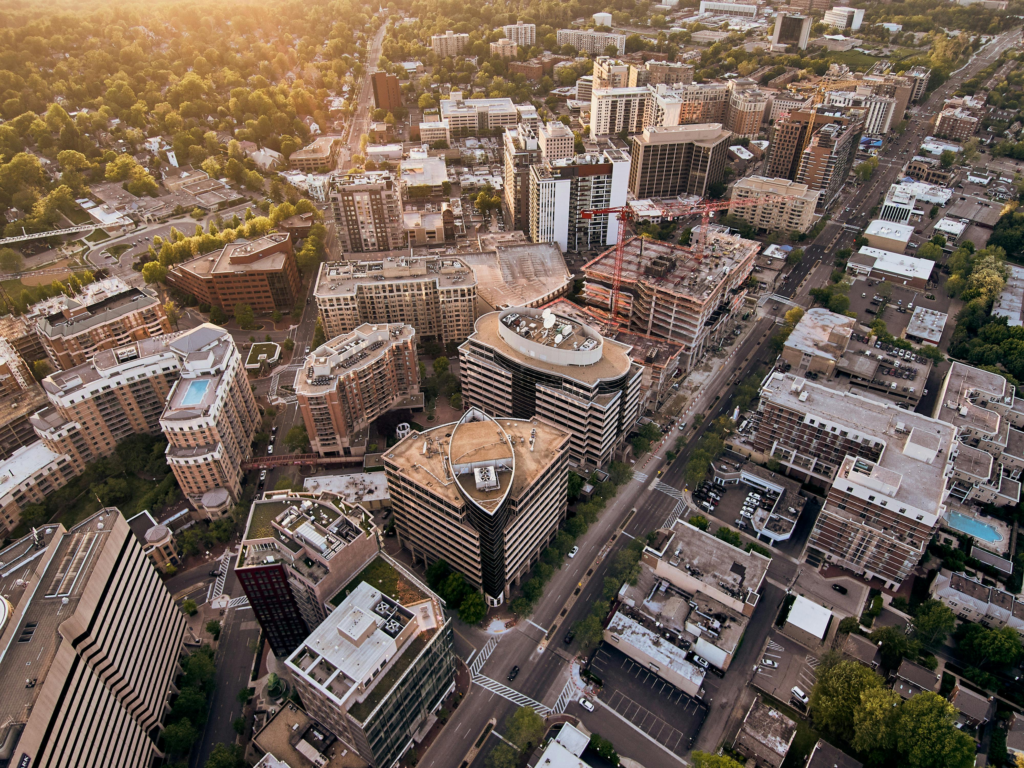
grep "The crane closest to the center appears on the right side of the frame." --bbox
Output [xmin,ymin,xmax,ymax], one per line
[581,198,705,267]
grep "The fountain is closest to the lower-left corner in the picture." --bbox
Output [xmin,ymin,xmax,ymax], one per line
[255,669,294,707]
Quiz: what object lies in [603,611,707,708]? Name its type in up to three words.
building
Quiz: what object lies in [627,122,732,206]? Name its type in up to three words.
building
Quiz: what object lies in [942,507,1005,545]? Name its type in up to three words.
swimming pool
